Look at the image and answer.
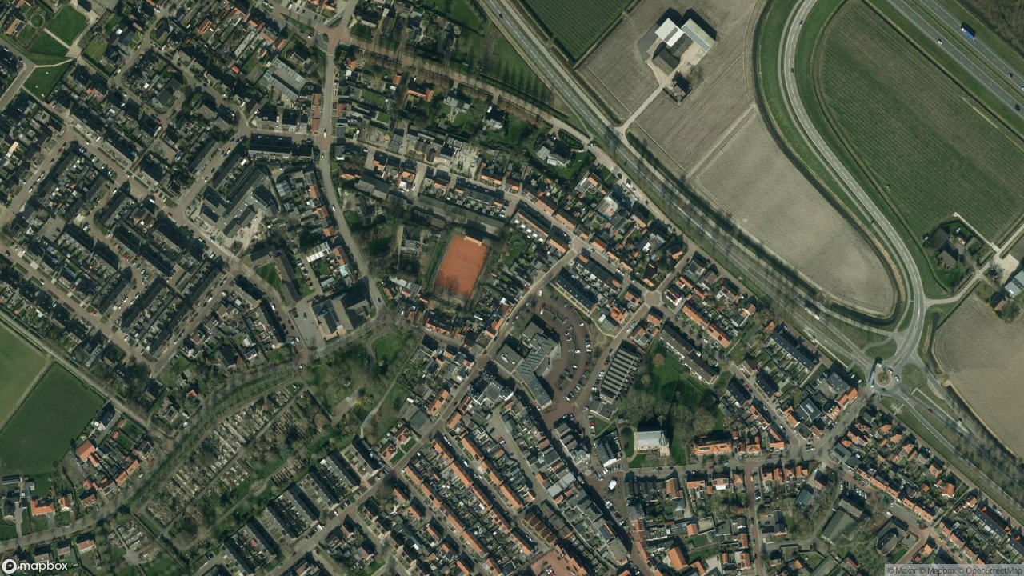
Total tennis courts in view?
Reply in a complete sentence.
Just 1 tennis court appears in this view.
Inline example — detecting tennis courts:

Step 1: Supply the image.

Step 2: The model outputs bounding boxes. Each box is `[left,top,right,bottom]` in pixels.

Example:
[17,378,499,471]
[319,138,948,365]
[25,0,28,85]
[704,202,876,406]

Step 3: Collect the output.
[436,233,489,297]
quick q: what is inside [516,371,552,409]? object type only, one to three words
building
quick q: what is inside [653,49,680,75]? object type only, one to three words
barn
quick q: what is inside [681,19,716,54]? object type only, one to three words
barn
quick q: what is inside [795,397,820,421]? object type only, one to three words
building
